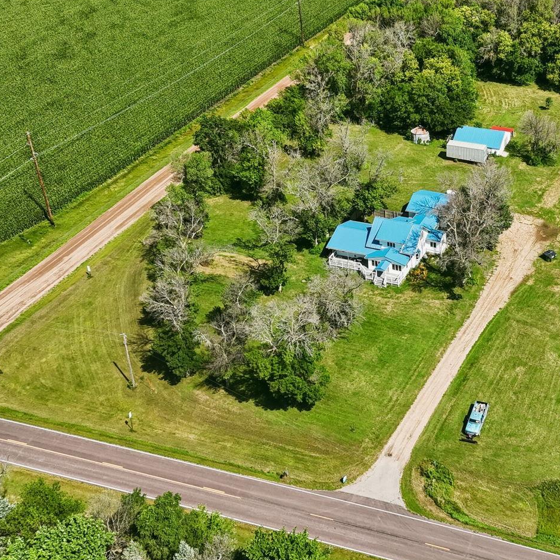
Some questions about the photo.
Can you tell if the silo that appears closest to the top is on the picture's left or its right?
right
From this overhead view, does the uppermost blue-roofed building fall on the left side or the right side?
right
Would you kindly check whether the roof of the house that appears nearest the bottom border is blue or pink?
blue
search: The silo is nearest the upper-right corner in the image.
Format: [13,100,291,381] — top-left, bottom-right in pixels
[412,125,433,147]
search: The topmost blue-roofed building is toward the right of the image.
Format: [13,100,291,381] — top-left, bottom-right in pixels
[454,125,510,157]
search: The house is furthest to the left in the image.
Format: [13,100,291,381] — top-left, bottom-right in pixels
[326,189,454,290]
